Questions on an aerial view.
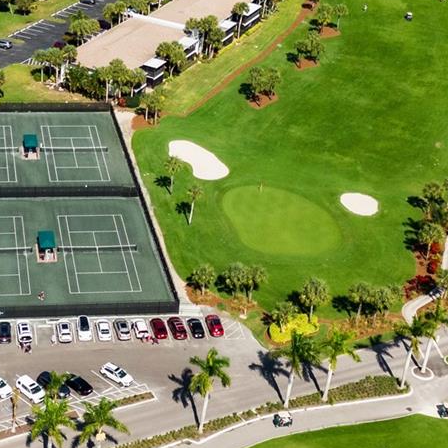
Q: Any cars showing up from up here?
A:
Yes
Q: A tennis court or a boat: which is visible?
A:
tennis court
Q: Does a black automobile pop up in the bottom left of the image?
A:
Yes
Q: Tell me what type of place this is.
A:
golf course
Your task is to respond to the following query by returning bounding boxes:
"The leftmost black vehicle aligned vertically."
[0,320,12,345]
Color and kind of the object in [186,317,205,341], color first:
black car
